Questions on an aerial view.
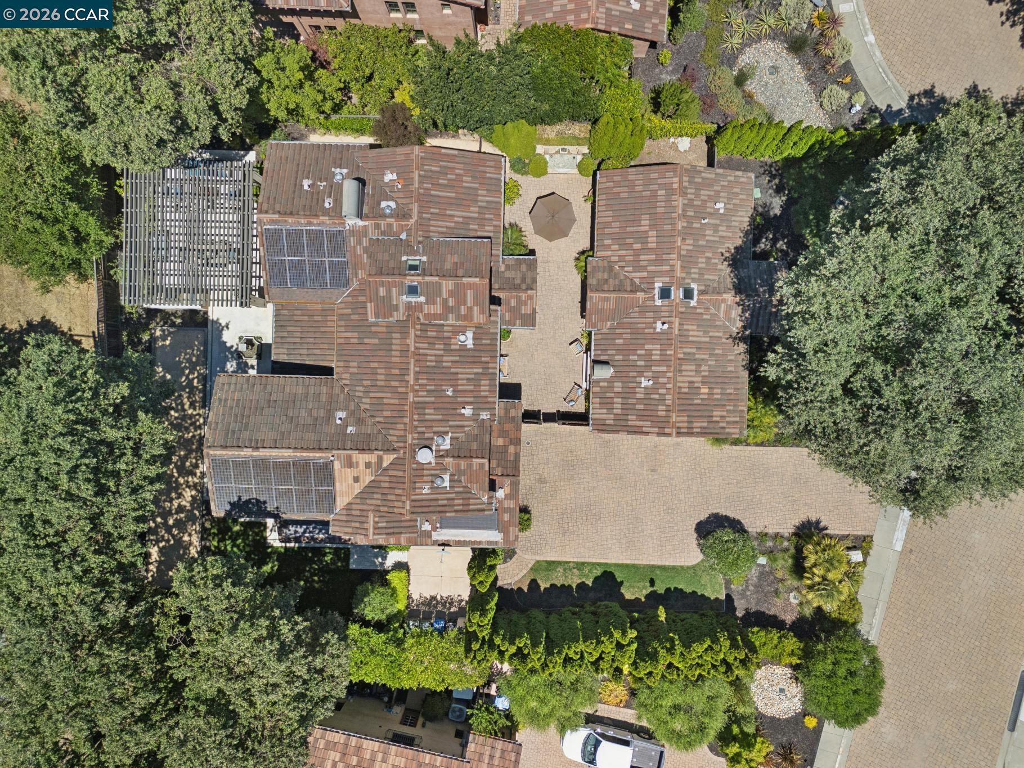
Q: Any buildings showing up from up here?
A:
Yes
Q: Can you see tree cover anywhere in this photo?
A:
Yes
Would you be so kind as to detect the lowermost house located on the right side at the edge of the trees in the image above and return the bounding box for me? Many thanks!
[582,161,787,440]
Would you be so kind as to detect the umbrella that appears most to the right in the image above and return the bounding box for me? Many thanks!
[529,192,576,242]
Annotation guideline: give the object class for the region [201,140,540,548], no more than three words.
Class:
house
